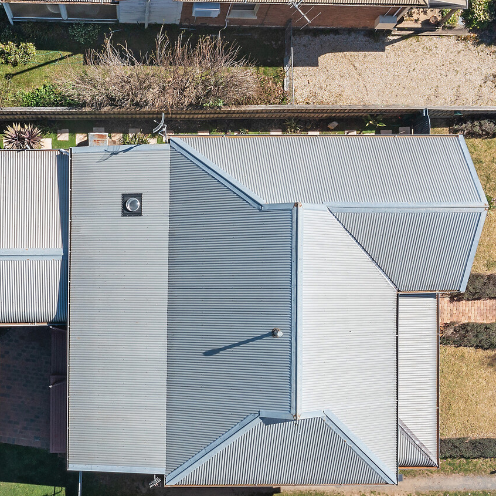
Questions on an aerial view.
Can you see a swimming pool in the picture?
No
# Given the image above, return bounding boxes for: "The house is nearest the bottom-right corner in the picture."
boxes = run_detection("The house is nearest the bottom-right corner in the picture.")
[64,131,491,491]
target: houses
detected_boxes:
[64,131,491,491]
[0,0,473,42]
